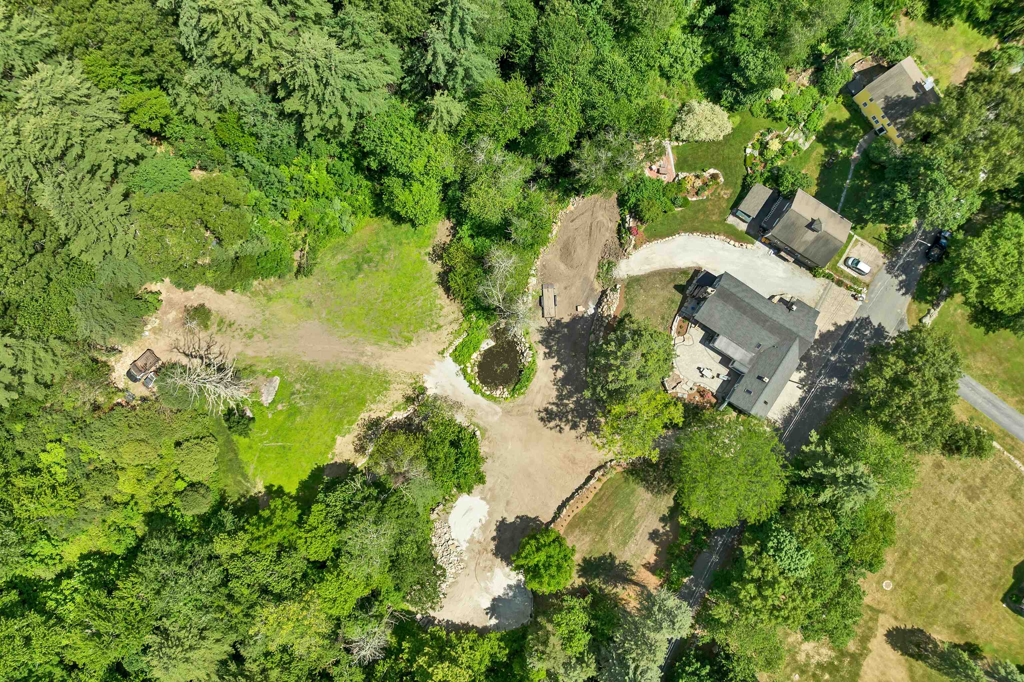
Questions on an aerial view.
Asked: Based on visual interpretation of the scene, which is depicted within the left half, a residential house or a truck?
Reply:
truck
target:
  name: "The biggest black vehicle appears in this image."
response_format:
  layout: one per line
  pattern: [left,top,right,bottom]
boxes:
[923,227,951,266]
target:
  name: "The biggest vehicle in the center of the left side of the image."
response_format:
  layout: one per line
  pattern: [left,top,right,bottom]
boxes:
[124,348,158,387]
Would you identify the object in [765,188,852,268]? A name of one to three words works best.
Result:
barn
